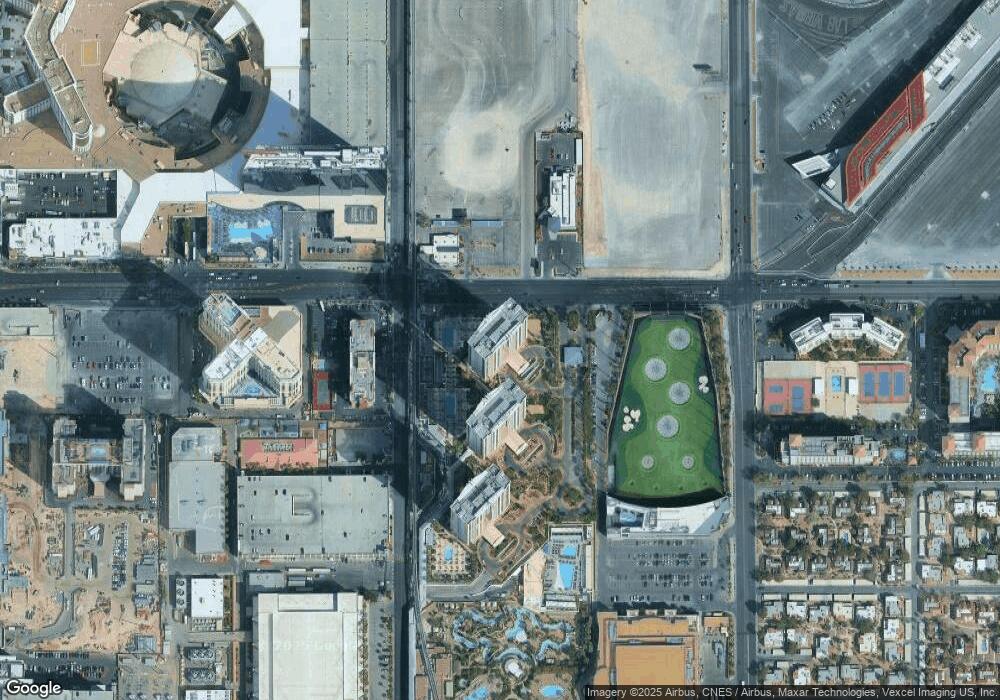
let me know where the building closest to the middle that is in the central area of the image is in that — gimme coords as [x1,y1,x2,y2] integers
[469,297,530,381]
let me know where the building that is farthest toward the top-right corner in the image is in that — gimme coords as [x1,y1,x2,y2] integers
[818,0,1000,215]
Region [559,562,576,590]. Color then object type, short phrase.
blue swimming pool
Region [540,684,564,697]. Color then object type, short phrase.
blue swimming pool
